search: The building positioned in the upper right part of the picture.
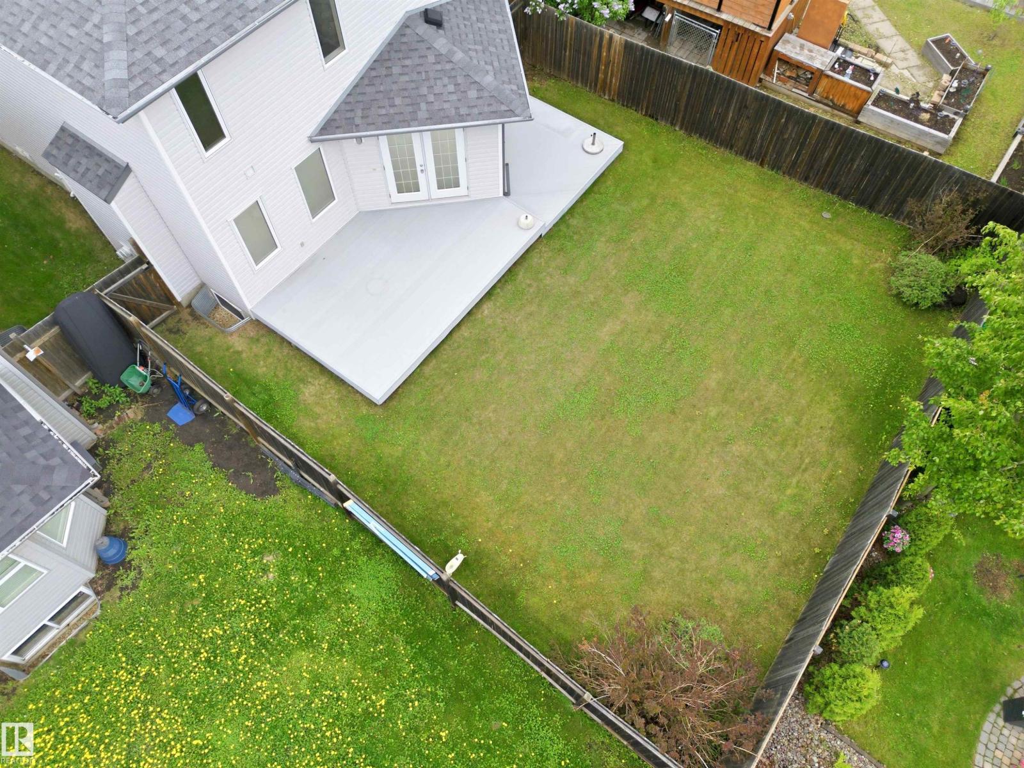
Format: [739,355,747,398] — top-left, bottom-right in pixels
[763,32,837,98]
